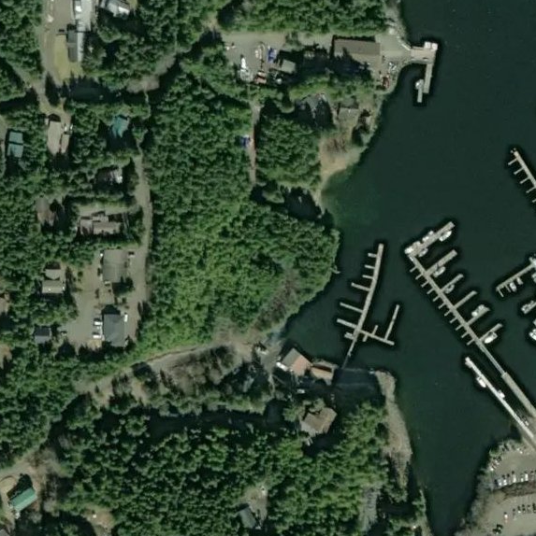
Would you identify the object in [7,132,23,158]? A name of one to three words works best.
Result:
house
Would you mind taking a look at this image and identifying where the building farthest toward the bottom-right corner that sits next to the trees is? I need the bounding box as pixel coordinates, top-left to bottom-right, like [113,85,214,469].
[303,406,333,434]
